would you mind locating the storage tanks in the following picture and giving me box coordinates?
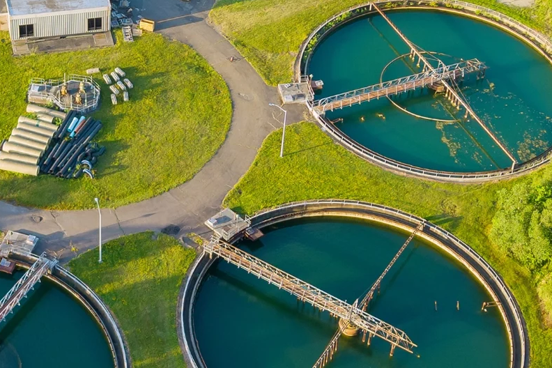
[182,199,526,368]
[280,0,552,181]
[0,225,127,368]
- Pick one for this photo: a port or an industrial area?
industrial area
